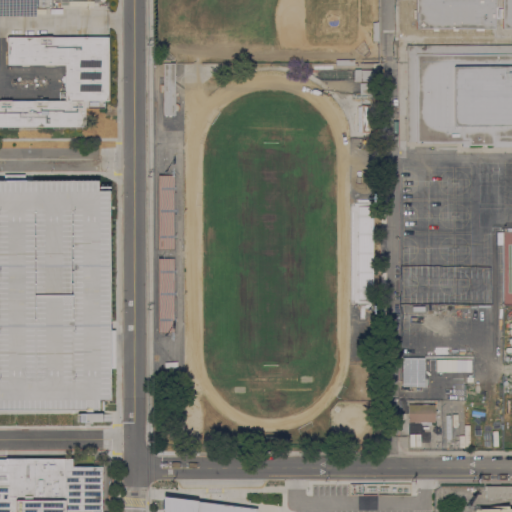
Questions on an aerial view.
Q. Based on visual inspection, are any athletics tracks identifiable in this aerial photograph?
Yes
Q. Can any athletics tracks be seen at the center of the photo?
Yes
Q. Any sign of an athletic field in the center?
Yes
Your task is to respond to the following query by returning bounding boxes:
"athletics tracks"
[186,70,351,431]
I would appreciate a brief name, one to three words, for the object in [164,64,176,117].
building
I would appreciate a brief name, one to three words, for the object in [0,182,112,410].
building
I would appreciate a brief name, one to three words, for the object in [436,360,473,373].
shed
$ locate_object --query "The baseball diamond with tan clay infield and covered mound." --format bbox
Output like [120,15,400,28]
[157,0,371,56]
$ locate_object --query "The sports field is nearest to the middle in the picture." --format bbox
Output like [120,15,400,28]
[204,90,336,416]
